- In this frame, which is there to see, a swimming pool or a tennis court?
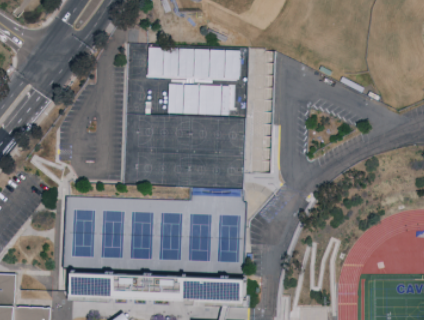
tennis court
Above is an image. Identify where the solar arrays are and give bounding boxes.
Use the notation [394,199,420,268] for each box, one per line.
[72,278,110,296]
[184,282,238,300]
